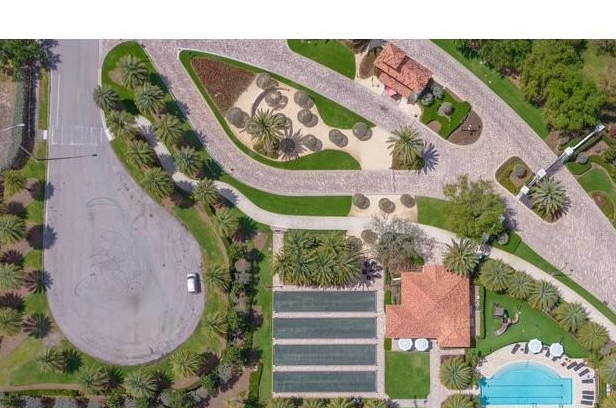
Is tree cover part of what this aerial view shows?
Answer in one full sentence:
Yes, there's tree cover in this view.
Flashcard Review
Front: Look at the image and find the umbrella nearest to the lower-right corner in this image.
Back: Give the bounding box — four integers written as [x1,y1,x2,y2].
[550,343,563,357]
